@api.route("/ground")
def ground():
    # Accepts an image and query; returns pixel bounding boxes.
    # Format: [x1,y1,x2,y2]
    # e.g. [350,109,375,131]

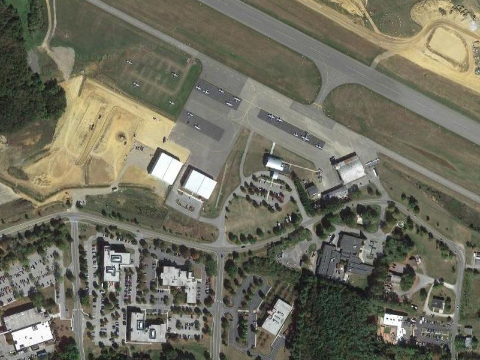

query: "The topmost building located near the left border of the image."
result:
[3,308,40,332]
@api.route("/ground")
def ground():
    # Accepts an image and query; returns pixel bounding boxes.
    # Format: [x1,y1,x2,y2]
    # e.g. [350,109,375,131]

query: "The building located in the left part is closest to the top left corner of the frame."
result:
[152,152,183,185]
